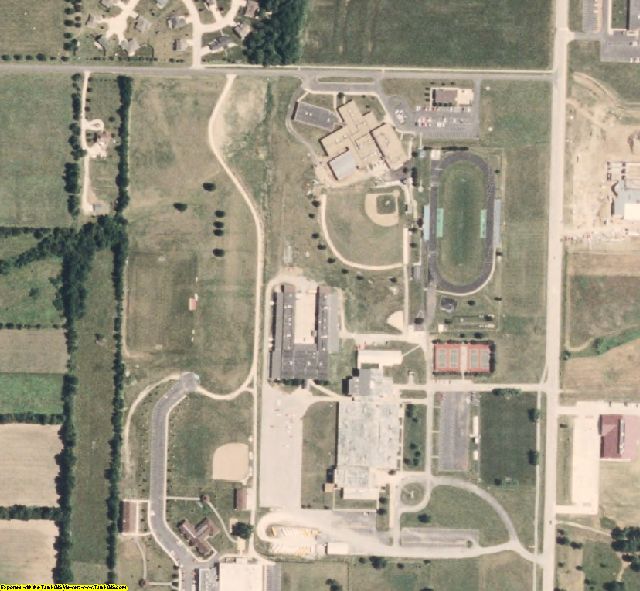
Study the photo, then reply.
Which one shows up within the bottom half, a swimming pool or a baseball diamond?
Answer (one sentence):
It is a baseball diamond that can be seen within the bottom half.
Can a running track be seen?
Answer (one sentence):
Yes, I can see a running track in this picture.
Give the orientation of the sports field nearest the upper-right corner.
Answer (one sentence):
What the image shows is the sports field nearest the upper-right corner lying from top to bottom.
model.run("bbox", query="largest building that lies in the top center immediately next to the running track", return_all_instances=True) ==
[319,99,408,179]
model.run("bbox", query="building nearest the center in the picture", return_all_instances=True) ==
[276,284,339,380]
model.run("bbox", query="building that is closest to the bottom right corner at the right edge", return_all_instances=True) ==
[601,415,640,459]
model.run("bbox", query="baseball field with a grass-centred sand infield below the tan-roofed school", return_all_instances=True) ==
[321,190,403,270]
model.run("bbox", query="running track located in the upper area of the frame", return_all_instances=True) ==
[428,151,496,292]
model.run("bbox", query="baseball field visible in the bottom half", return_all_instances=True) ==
[212,443,249,480]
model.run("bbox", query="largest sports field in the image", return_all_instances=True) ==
[437,158,488,285]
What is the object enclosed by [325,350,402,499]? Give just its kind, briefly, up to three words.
building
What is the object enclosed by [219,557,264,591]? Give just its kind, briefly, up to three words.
building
